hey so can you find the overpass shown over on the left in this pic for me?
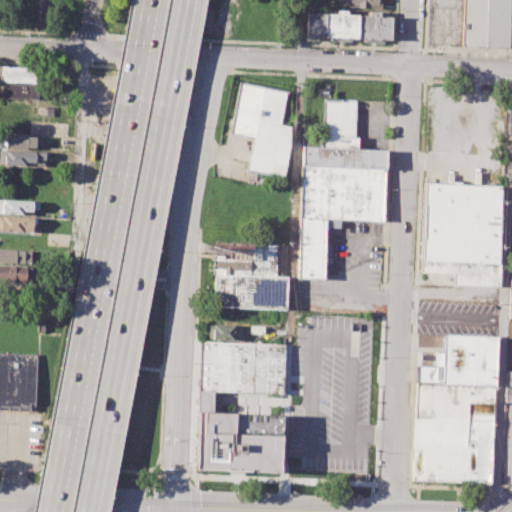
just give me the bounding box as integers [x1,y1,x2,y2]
[36,0,210,512]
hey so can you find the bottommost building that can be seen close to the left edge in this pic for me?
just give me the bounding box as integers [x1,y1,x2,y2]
[0,354,40,410]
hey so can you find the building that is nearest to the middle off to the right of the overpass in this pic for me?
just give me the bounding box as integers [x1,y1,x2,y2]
[215,256,290,310]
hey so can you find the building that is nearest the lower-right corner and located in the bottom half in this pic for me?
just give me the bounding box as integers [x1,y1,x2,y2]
[416,336,500,482]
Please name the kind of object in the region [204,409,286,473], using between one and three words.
building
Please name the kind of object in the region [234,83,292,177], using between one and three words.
building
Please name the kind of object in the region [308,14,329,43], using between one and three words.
house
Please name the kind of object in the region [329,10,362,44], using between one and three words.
house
